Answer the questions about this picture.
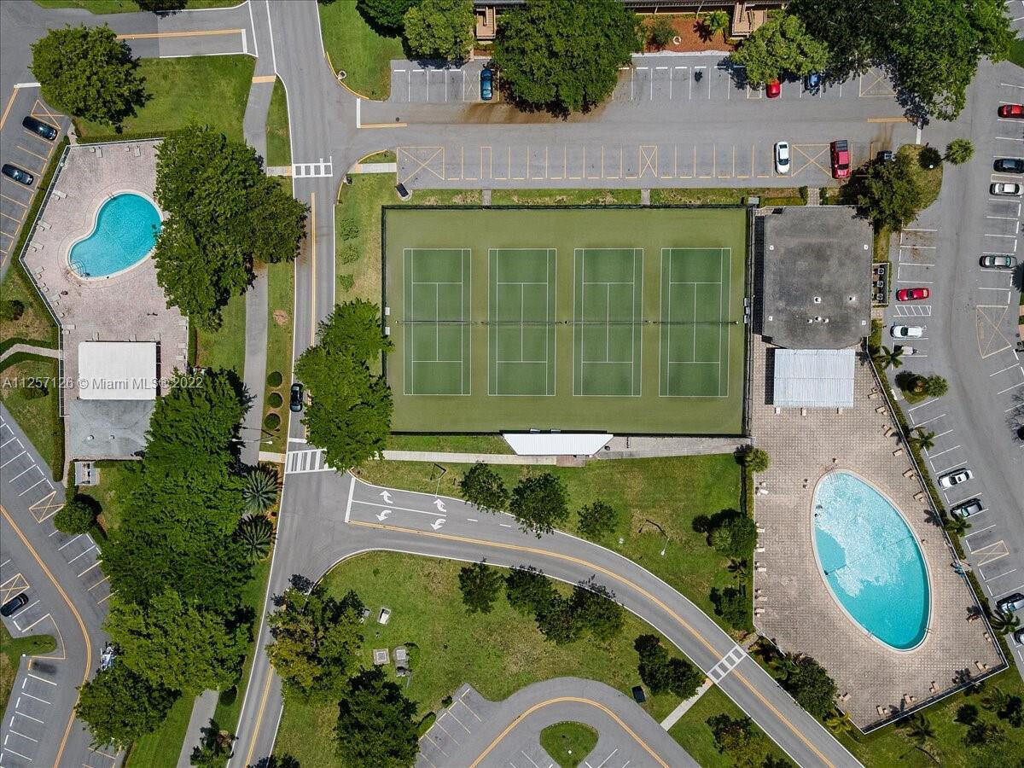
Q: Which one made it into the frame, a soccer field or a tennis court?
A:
tennis court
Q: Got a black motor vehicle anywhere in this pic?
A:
Yes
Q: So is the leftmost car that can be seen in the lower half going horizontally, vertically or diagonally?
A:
diagonally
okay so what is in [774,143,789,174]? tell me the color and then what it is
white car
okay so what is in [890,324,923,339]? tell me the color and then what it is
white car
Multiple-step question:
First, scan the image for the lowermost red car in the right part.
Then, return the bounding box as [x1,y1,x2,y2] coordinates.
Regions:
[896,287,930,302]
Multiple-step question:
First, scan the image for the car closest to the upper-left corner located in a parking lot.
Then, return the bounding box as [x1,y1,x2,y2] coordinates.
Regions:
[23,117,58,140]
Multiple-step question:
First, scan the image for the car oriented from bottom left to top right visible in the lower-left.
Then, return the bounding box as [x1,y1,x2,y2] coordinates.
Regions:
[1,592,31,617]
